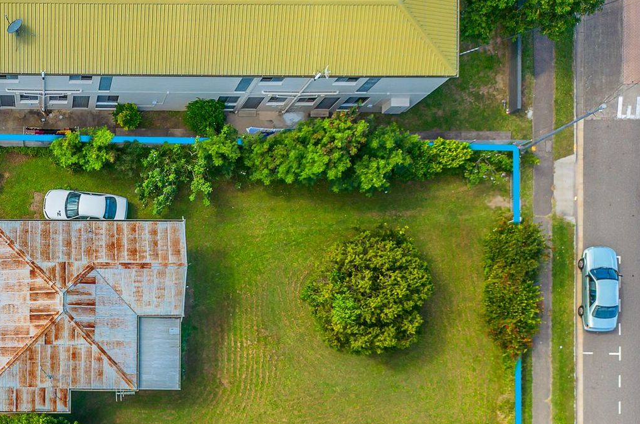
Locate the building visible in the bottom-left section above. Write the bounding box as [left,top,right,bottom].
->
[0,216,189,417]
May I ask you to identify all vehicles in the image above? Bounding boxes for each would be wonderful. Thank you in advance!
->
[43,185,130,217]
[581,248,632,334]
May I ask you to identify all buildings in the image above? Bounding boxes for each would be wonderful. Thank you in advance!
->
[0,216,189,417]
[0,0,463,116]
